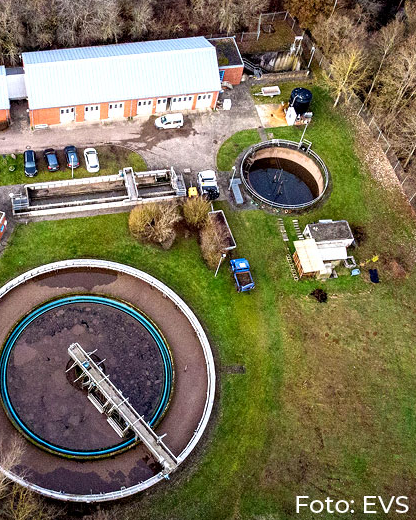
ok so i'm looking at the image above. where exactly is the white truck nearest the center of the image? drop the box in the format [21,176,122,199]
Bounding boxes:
[195,166,221,201]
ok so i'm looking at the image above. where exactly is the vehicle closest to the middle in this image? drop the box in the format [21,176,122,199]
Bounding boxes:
[229,257,256,292]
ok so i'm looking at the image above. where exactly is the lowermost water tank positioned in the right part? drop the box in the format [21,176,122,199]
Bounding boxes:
[241,137,329,210]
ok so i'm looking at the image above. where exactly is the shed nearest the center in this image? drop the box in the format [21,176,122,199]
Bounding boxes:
[290,237,330,281]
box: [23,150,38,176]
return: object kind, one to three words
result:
car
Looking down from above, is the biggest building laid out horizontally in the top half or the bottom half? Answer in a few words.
top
